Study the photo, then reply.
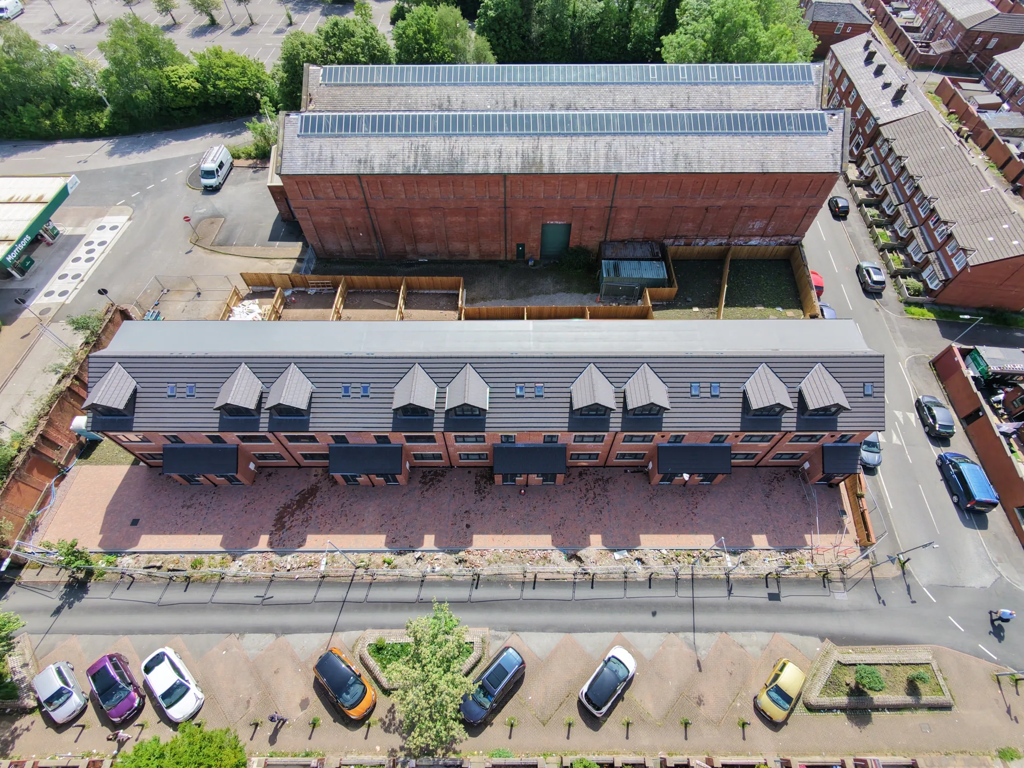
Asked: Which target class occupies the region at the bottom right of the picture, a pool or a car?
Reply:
car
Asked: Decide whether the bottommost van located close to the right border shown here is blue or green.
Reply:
blue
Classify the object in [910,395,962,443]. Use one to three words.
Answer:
car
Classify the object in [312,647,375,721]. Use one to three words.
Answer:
car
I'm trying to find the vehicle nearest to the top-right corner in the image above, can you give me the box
[826,196,852,221]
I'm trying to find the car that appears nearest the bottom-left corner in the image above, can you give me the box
[30,654,91,728]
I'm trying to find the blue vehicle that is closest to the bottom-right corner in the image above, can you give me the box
[933,456,1008,515]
